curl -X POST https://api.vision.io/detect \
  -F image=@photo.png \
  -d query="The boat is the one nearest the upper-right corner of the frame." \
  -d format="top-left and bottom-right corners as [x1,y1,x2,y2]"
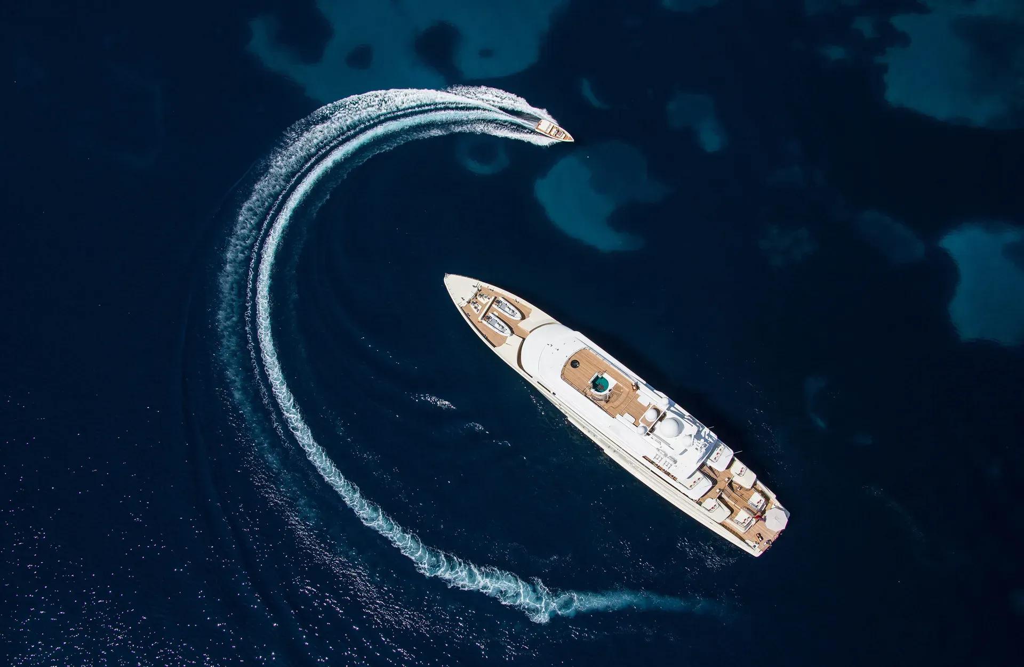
[536,123,574,143]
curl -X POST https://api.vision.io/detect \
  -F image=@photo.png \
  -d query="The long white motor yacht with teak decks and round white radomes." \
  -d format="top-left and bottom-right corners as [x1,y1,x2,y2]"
[444,270,791,556]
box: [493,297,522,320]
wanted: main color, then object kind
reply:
white boat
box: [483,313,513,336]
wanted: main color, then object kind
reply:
white boat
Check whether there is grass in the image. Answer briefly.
No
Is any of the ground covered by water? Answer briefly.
Yes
